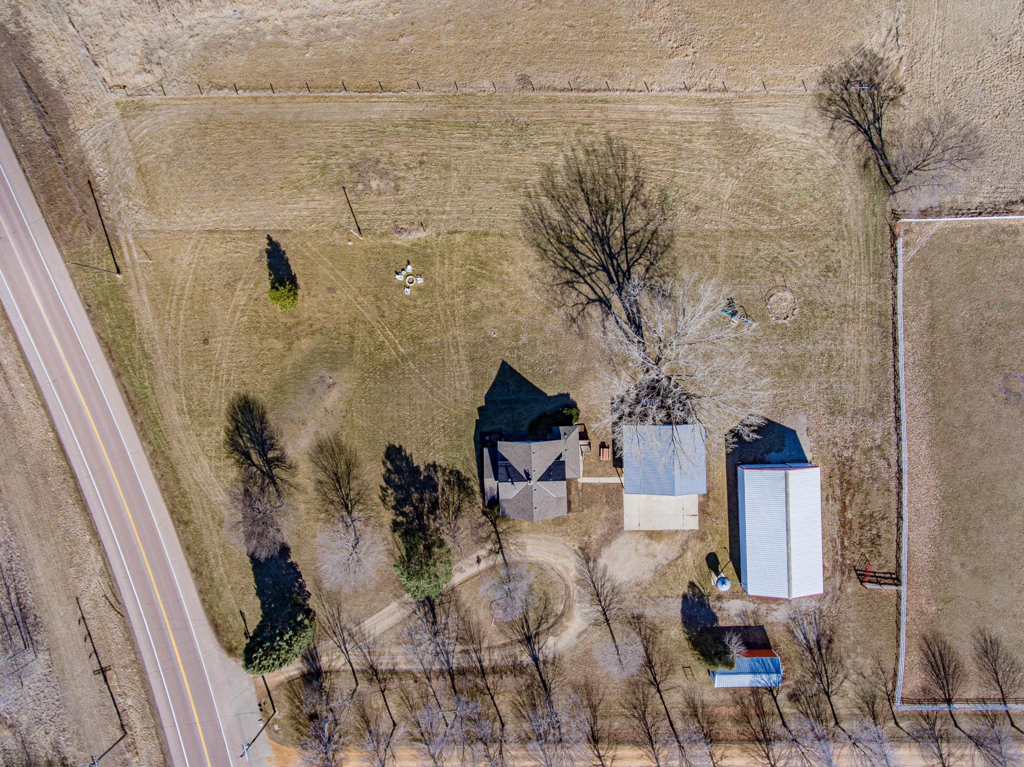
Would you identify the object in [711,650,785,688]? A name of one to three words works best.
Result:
shed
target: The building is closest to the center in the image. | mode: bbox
[483,427,592,521]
